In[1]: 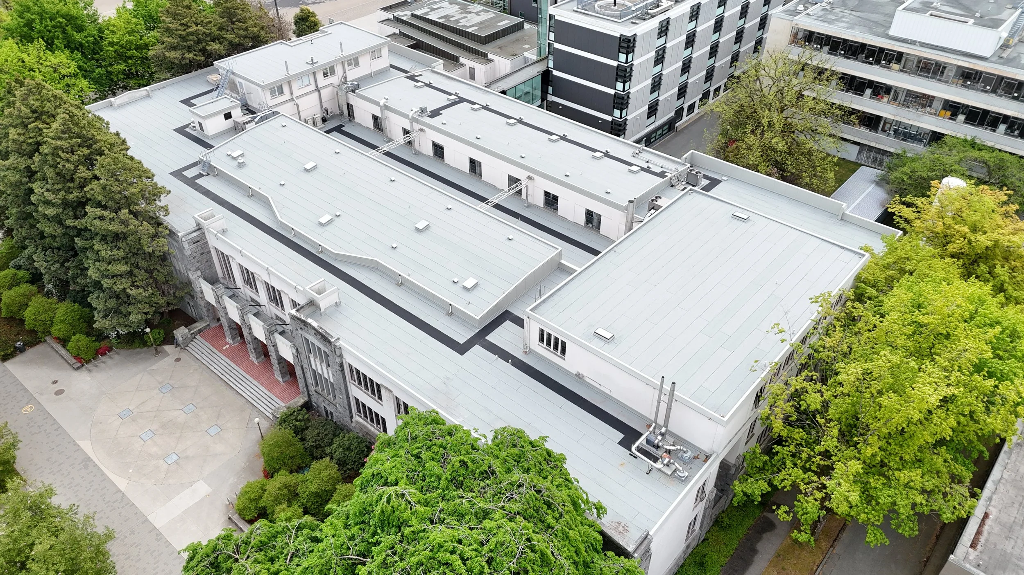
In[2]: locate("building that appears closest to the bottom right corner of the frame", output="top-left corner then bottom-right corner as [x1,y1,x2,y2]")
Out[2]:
[936,397,1024,575]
